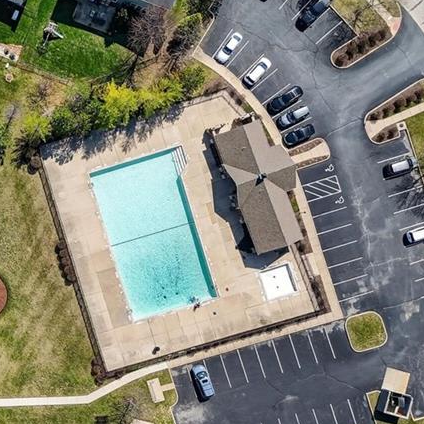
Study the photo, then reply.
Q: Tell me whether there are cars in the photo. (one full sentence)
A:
Yes, the picture does show a car.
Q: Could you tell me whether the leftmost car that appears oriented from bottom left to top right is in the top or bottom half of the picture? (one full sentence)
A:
The leftmost car that appears oriented from bottom left to top right is in the top half of the image.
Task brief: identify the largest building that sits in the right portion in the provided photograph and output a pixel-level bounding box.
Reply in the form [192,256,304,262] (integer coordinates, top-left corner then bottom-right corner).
[208,119,303,254]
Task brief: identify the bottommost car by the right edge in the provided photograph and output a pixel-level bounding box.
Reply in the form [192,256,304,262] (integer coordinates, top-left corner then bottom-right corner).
[401,226,424,244]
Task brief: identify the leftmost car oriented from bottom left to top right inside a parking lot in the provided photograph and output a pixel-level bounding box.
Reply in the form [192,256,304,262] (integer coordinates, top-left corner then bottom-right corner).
[219,31,244,62]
